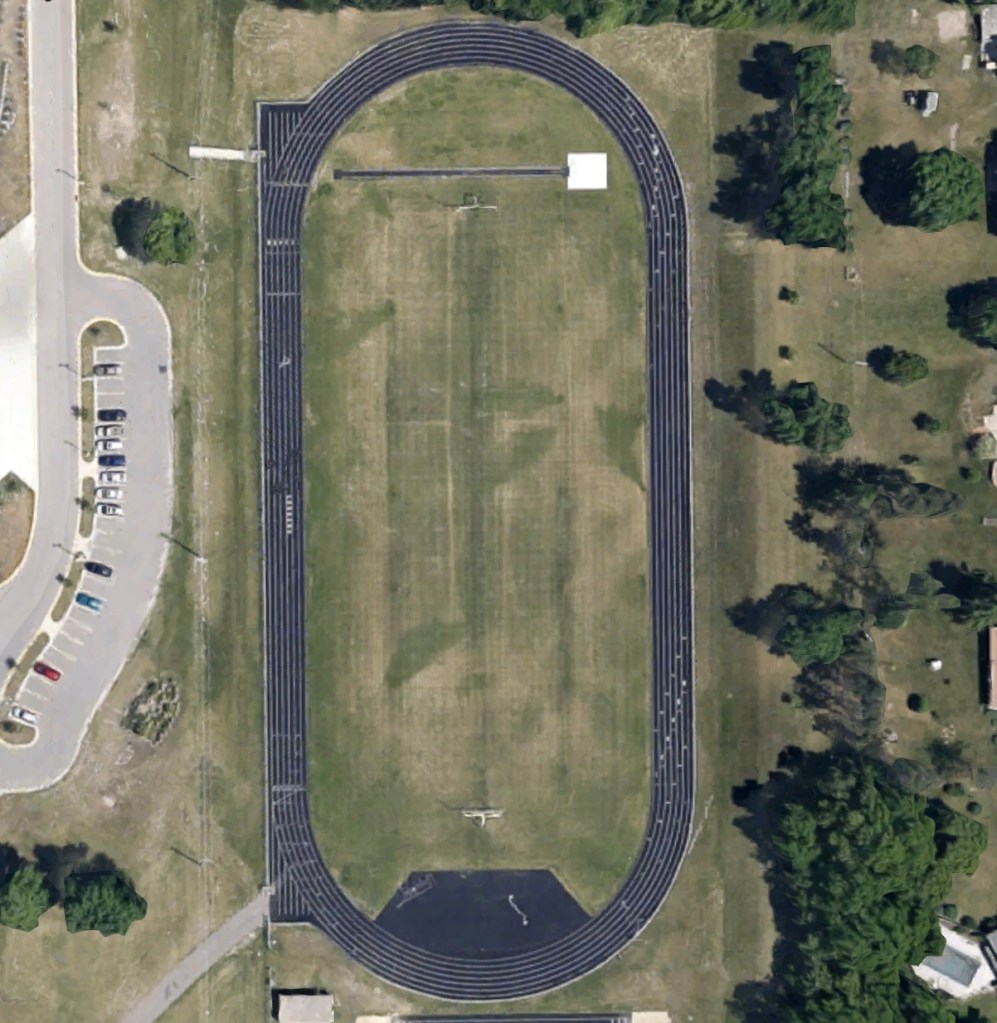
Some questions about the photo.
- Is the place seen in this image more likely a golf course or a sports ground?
sports ground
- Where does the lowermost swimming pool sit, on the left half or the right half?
right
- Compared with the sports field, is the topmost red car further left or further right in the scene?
on its left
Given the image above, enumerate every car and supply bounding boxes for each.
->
[96,503,124,515]
[100,471,127,483]
[76,593,104,609]
[33,661,62,681]
[96,425,123,437]
[97,408,127,422]
[95,440,123,452]
[96,488,123,498]
[84,561,113,576]
[9,705,38,724]
[98,454,126,468]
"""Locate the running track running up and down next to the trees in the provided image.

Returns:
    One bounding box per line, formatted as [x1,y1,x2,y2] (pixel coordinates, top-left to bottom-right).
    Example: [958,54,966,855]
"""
[257,23,694,1000]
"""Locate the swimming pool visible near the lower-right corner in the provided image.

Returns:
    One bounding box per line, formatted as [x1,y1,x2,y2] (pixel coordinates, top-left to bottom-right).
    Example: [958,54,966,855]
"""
[910,921,995,999]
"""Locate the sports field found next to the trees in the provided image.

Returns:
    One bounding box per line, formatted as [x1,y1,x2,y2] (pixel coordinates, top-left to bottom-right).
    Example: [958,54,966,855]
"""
[302,65,652,922]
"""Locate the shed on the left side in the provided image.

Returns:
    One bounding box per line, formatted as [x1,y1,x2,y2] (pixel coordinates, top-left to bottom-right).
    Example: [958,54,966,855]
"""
[277,993,333,1023]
